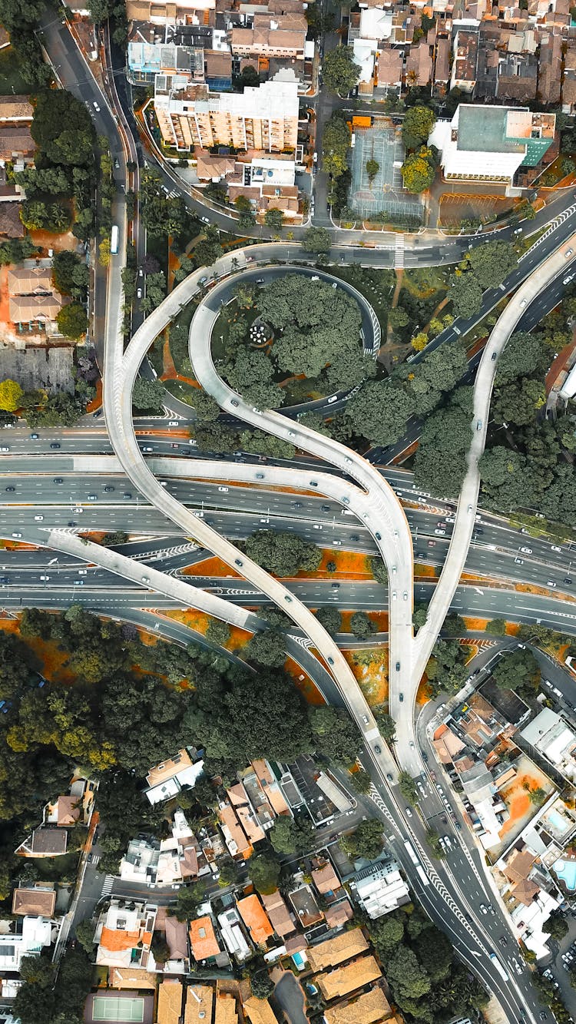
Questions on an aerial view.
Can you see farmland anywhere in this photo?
No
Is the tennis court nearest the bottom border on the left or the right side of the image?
left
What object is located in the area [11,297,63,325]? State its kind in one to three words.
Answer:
building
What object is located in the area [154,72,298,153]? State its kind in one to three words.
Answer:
building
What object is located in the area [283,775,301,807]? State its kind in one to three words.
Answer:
house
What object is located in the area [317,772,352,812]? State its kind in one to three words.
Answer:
shed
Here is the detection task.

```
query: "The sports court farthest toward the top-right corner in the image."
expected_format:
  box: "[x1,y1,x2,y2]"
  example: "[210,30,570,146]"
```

[348,126,423,217]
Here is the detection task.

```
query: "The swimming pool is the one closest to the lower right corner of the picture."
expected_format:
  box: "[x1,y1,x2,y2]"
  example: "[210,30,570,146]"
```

[552,860,576,891]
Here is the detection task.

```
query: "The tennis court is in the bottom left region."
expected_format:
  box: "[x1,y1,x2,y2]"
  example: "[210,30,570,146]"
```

[87,987,154,1024]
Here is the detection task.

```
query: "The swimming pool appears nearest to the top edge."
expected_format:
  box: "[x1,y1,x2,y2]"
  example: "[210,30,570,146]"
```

[549,812,569,831]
